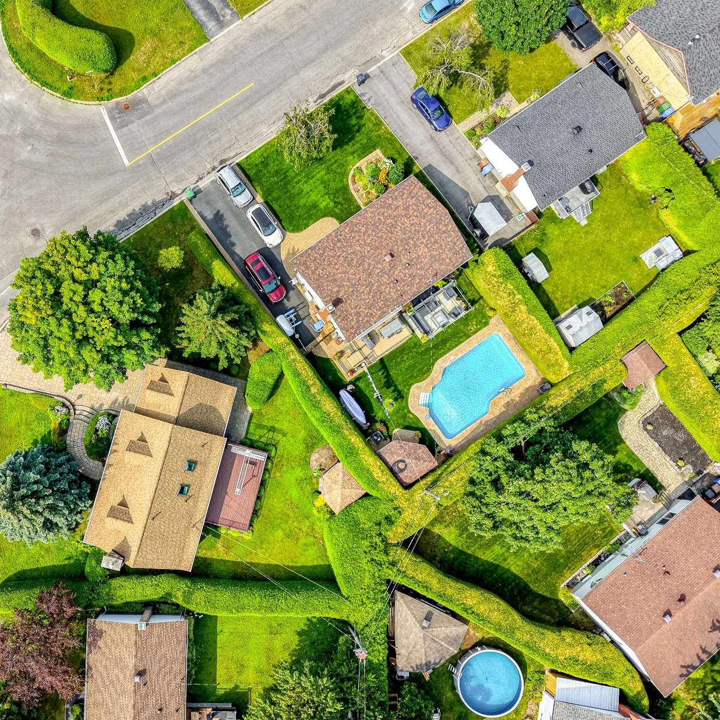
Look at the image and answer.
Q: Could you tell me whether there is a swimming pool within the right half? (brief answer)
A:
Yes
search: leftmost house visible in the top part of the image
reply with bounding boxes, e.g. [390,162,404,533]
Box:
[288,174,474,344]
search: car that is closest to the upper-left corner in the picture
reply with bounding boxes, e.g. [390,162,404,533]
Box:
[214,161,255,211]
